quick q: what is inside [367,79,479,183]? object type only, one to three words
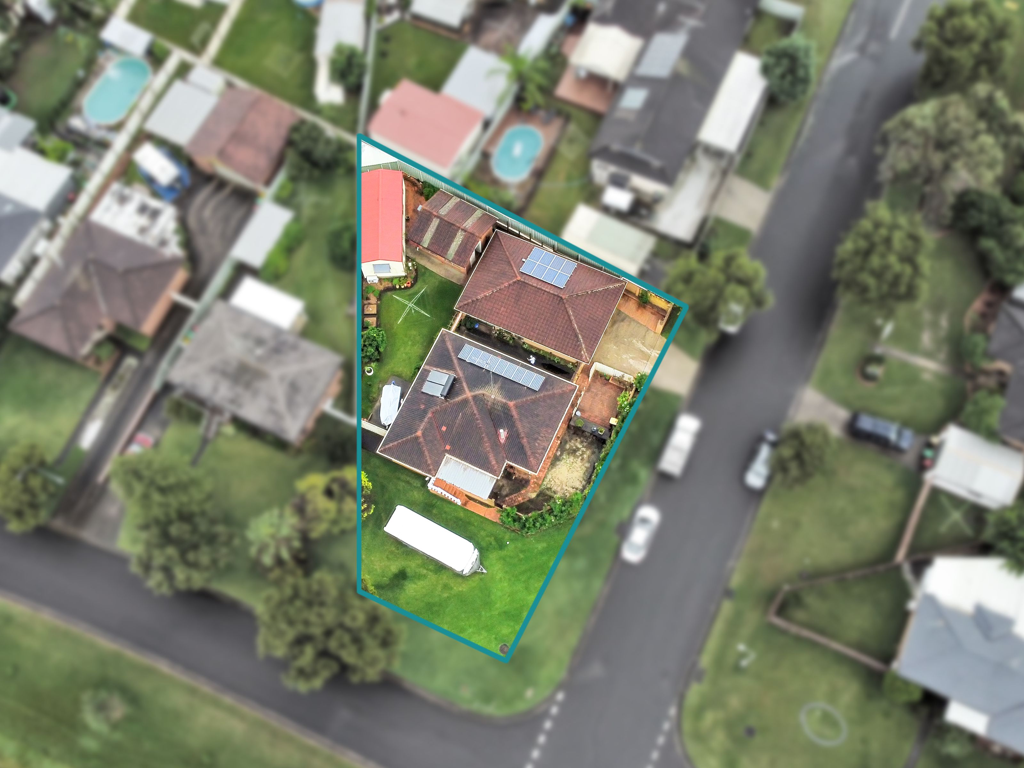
shed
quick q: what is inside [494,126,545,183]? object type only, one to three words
swimming pool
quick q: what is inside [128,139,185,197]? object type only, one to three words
boat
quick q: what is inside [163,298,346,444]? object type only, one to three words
house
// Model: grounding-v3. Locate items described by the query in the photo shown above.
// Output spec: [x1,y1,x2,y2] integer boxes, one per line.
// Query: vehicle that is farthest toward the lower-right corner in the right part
[850,413,913,453]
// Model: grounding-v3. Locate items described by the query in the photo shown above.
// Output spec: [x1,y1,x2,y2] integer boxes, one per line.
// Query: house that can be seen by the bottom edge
[888,588,1024,759]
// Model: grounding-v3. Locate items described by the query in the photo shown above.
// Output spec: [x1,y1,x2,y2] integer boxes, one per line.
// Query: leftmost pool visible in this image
[84,60,155,122]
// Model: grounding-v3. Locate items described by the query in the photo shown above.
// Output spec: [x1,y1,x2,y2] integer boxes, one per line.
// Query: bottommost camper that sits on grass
[385,507,487,573]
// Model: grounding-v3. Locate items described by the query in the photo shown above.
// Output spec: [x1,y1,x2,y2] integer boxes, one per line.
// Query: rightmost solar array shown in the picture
[520,248,577,289]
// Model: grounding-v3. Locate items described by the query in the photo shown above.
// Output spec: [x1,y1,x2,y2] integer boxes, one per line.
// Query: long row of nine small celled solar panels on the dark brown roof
[458,344,545,391]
